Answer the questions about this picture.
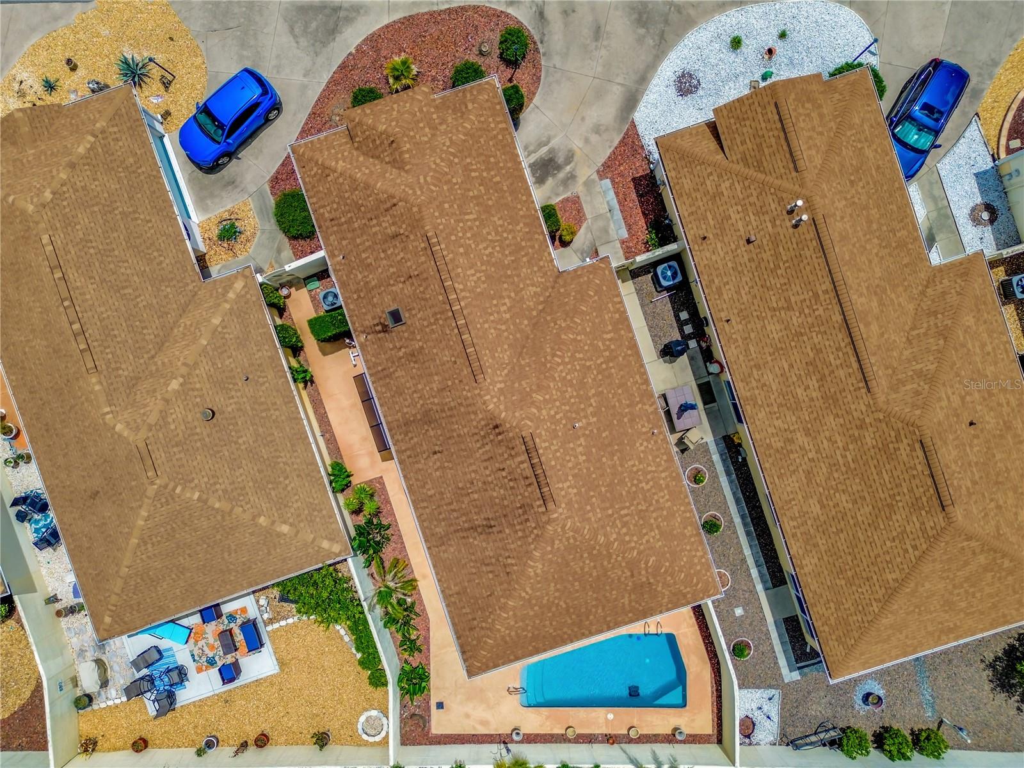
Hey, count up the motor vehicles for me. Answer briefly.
two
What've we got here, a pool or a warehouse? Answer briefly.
pool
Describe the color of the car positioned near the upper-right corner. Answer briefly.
blue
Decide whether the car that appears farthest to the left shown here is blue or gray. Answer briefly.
blue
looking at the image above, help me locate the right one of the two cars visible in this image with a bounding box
[887,57,966,179]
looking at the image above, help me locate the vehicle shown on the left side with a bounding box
[181,66,283,171]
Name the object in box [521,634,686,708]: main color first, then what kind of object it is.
blue swimming pool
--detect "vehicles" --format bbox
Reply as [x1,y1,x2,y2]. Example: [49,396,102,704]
[887,57,966,179]
[181,66,283,171]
